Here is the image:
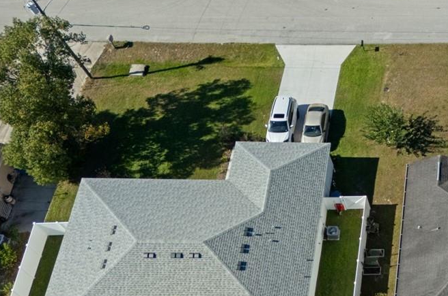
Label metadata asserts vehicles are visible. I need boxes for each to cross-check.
[268,96,301,144]
[299,103,330,144]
